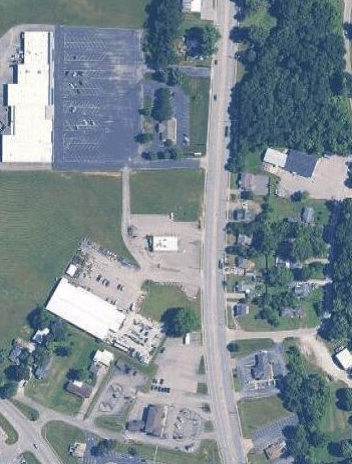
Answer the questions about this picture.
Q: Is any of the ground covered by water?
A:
No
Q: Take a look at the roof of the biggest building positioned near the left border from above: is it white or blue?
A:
white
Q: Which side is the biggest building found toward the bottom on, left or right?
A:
left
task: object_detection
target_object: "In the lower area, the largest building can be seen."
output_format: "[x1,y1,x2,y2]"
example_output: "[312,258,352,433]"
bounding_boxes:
[47,277,125,340]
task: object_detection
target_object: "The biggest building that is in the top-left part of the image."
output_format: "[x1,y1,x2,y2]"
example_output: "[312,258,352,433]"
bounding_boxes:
[2,31,53,162]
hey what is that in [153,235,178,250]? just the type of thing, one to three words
building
